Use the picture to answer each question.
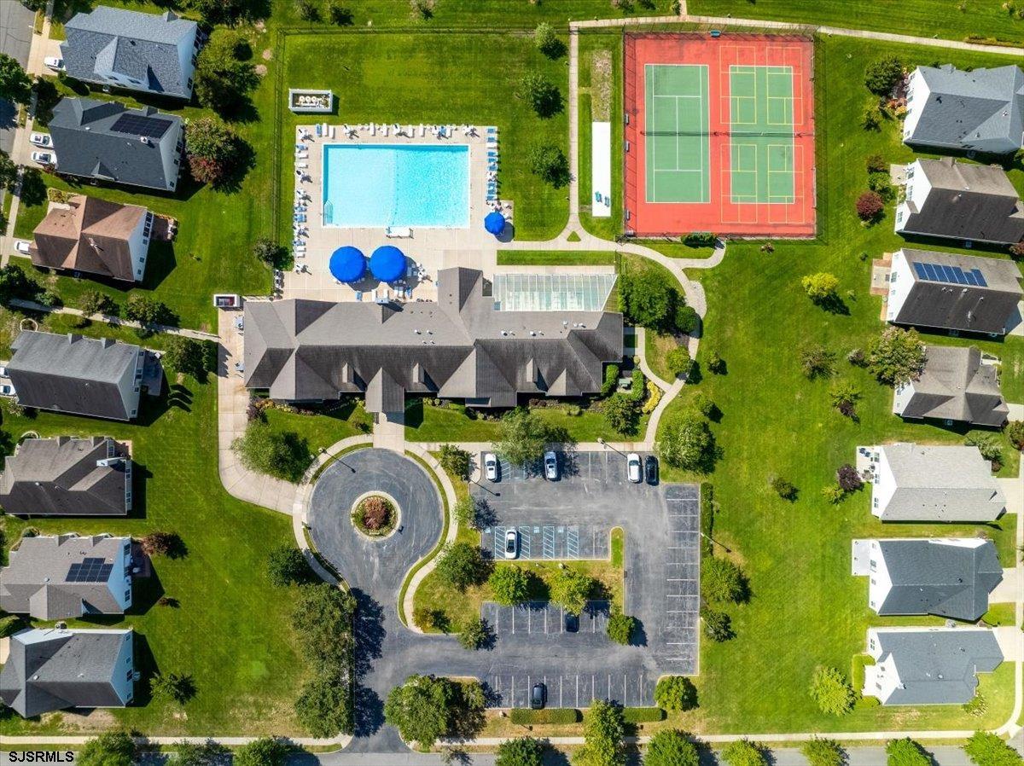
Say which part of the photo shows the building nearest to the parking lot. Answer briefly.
center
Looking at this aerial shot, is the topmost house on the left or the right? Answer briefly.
left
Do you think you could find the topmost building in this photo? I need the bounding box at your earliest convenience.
[56,5,203,104]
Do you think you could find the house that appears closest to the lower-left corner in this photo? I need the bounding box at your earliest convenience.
[0,628,134,717]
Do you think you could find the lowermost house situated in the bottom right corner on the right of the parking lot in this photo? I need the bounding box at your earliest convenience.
[869,628,1003,705]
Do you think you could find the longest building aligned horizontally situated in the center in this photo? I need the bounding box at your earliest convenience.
[245,266,623,413]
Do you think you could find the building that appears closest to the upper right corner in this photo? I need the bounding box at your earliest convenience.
[901,63,1024,156]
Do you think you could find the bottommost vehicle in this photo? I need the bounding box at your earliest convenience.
[532,681,545,710]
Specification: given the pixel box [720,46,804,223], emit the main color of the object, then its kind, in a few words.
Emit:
green sports court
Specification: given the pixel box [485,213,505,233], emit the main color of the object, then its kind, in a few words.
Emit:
blue umbrella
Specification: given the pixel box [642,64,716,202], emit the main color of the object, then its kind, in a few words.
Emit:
green tennis court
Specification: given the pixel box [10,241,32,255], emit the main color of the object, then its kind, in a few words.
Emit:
white car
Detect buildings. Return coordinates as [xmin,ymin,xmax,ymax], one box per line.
[0,628,134,717]
[0,331,148,421]
[889,155,1024,245]
[869,628,1003,705]
[886,248,1024,337]
[0,436,135,514]
[56,5,203,104]
[31,192,155,281]
[901,63,1024,156]
[245,266,623,413]
[44,93,189,193]
[0,533,133,622]
[892,347,1015,426]
[872,442,1010,521]
[870,539,1005,623]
